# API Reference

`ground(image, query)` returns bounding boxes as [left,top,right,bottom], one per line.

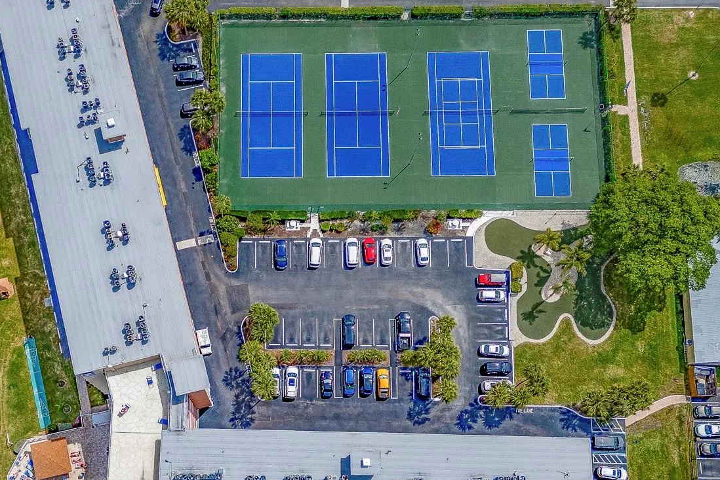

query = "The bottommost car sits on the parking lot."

[595,466,625,480]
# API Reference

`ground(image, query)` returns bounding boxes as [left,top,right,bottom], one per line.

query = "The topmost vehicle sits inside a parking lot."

[151,0,164,18]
